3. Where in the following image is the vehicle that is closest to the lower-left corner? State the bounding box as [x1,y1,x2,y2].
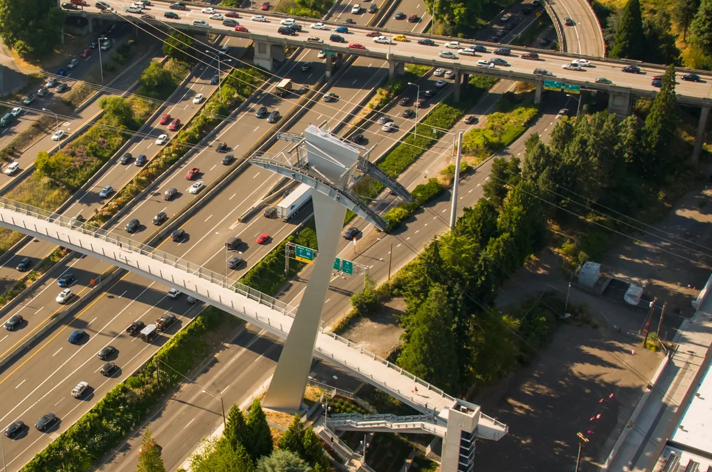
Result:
[2,420,26,438]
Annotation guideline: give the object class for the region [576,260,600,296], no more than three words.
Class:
shed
